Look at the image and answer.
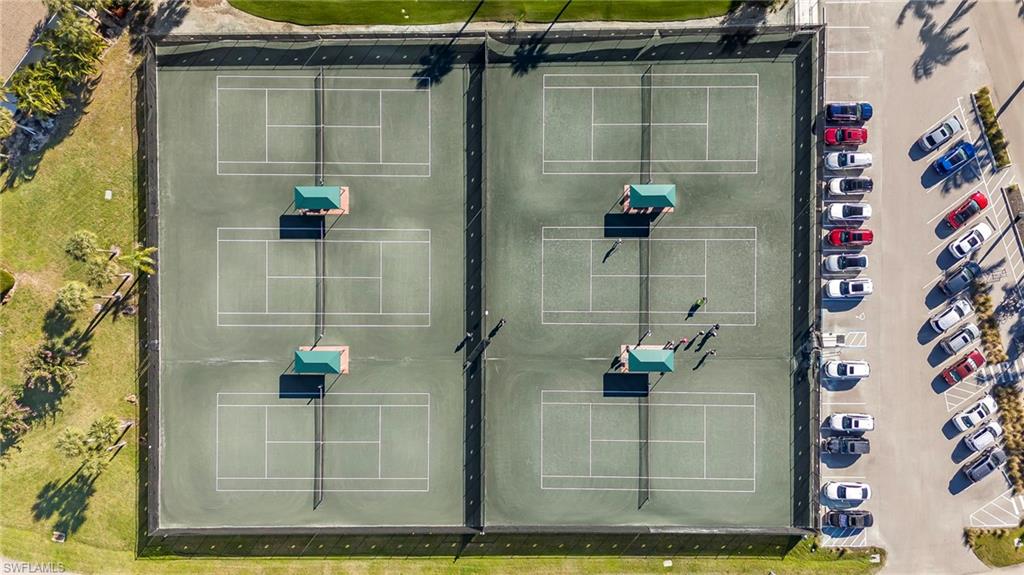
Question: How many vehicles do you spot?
24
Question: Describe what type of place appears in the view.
sports ground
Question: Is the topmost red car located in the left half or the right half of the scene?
right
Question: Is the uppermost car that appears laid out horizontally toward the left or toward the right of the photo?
right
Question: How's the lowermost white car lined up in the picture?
from left to right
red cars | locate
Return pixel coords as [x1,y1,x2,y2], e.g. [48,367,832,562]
[943,351,987,386]
[825,127,868,147]
[828,227,873,247]
[946,194,989,229]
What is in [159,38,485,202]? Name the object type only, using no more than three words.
tennis court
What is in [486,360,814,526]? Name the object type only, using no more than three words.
tennis court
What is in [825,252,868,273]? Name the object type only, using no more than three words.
car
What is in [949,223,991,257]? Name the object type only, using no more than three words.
car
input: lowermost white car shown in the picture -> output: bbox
[826,482,870,502]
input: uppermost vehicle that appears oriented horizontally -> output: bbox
[825,101,872,122]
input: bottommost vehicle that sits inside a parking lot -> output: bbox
[824,509,872,531]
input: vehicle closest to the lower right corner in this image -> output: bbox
[964,448,1008,482]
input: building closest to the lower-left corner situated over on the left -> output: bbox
[295,346,349,374]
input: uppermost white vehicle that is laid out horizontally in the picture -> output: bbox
[825,150,871,170]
